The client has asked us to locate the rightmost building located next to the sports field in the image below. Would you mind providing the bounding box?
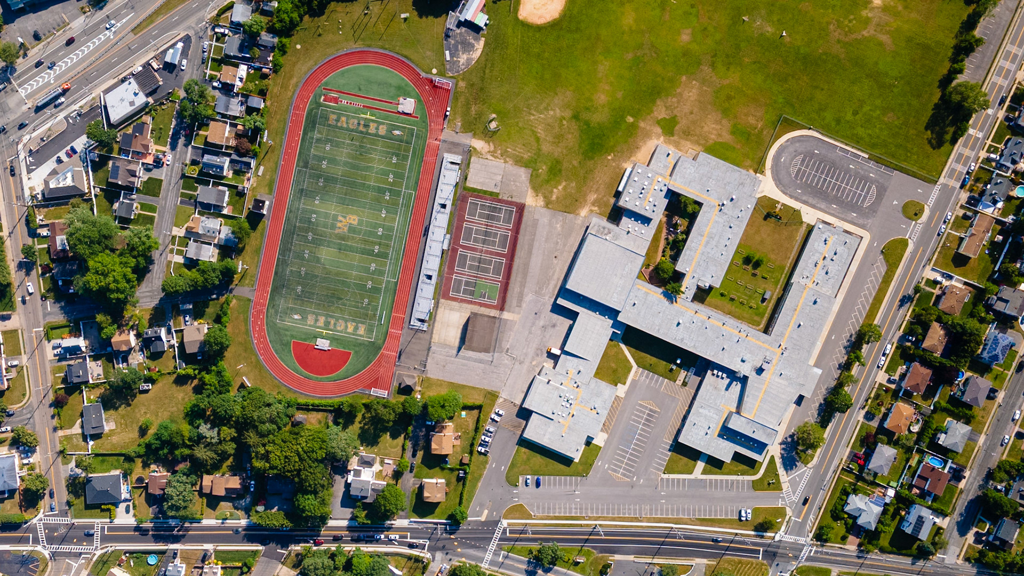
[522,145,862,463]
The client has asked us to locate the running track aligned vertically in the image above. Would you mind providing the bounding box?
[249,47,458,400]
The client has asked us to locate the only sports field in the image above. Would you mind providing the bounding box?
[265,64,428,382]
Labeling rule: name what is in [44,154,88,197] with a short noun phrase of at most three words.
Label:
building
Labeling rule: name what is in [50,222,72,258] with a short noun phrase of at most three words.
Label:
house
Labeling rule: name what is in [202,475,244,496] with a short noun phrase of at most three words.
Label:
house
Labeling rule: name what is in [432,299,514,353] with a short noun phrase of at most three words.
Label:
sports court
